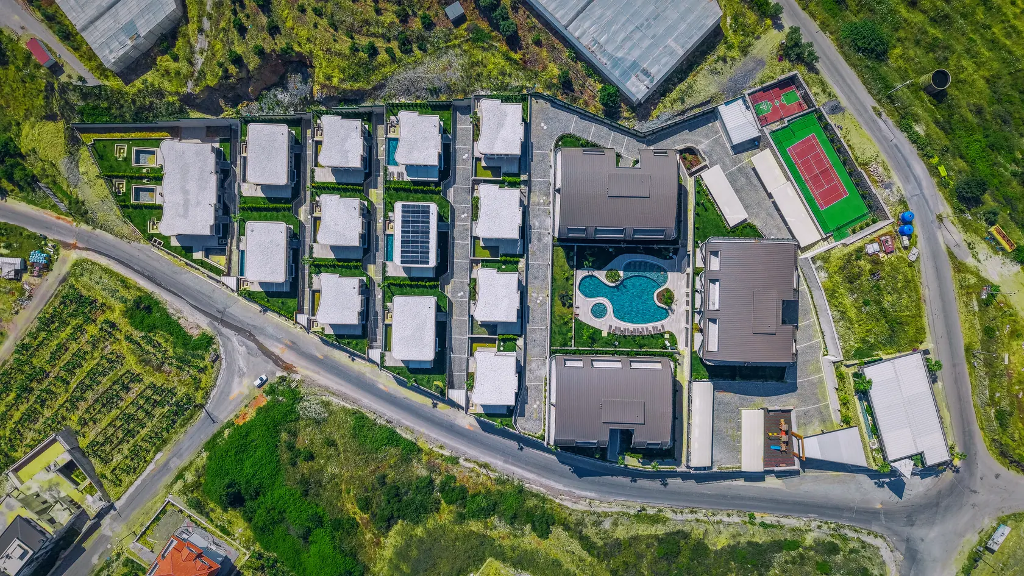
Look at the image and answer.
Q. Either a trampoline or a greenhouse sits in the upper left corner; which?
greenhouse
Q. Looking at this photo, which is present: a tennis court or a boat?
tennis court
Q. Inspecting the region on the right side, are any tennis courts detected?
Yes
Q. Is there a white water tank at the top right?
No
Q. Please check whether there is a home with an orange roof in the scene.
Yes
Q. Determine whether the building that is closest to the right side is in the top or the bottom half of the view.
bottom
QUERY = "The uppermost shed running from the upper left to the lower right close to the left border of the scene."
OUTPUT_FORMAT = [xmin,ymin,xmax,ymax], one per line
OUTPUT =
[26,38,57,67]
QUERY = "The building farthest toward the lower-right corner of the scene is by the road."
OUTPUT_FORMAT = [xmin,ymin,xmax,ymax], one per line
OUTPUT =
[857,349,952,468]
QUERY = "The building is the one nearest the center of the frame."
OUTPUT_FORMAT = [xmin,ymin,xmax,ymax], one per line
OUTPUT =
[474,268,520,324]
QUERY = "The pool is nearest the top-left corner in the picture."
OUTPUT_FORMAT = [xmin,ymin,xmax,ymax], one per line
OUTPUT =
[132,147,157,166]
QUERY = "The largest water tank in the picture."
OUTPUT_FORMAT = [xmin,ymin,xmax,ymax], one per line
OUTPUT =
[915,69,951,96]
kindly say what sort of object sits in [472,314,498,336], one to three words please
swimming pool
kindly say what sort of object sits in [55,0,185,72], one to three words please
greenhouse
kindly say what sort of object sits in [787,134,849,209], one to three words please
tennis court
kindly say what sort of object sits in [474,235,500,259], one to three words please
swimming pool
